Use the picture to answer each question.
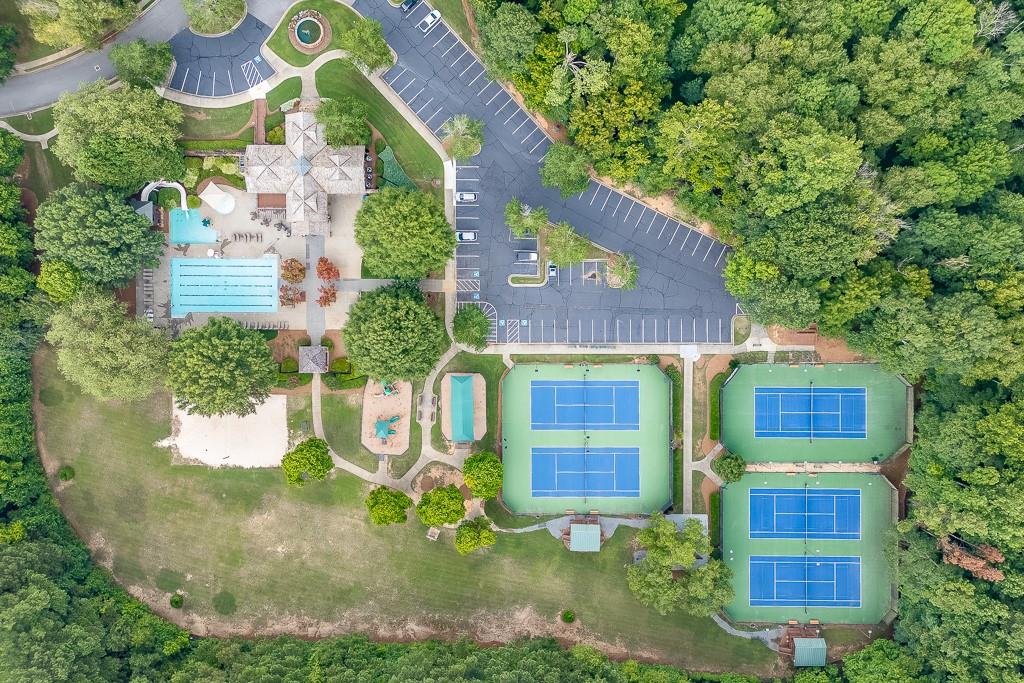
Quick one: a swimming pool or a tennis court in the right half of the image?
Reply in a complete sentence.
The feature located in the right half of the image is a tennis court.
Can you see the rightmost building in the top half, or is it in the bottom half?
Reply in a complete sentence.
The bottom half of the photo is where the rightmost building is.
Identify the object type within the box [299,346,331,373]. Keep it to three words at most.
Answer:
building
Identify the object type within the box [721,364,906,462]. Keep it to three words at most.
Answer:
tennis court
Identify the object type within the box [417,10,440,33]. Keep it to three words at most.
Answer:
truck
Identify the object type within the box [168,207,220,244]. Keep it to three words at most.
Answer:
swimming pool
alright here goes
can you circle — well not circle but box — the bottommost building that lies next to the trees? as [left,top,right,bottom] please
[788,632,827,666]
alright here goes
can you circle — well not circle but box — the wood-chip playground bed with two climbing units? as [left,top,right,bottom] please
[361,377,413,456]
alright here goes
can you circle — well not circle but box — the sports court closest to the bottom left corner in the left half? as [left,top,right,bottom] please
[157,391,289,467]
